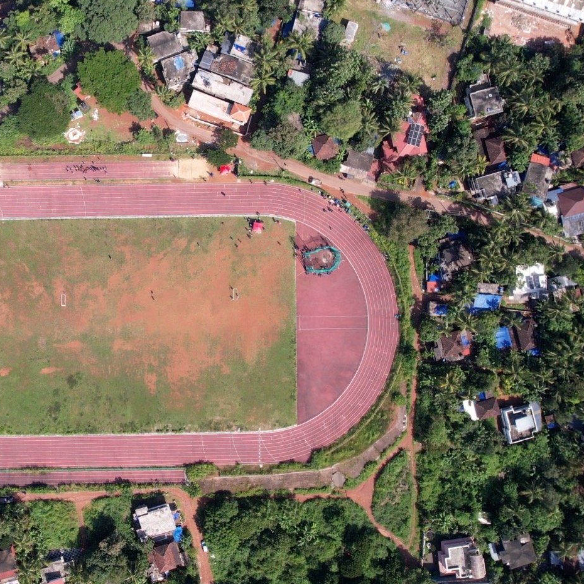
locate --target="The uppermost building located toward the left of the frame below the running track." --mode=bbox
[137,499,177,543]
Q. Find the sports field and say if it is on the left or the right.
left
